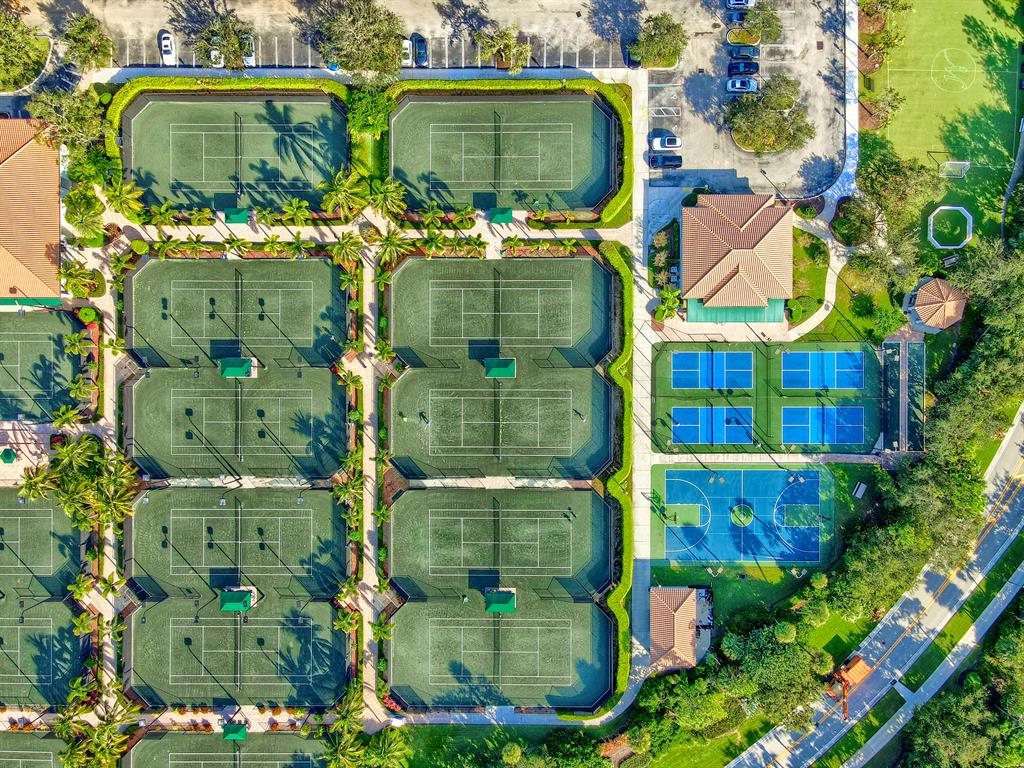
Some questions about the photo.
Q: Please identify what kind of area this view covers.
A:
sports ground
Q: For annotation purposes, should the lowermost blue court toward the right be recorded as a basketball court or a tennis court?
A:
basketball court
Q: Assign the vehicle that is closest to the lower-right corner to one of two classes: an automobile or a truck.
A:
truck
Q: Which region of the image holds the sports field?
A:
top right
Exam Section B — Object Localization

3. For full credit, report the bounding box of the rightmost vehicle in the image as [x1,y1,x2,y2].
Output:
[824,655,873,721]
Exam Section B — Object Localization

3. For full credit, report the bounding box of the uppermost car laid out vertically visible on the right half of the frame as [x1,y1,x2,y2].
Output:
[628,40,641,69]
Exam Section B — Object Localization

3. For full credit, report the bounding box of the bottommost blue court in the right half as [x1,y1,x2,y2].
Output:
[651,464,834,567]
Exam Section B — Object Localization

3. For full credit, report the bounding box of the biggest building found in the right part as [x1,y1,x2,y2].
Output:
[681,194,793,322]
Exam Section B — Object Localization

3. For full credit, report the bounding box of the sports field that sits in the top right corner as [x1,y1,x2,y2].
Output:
[863,0,1024,205]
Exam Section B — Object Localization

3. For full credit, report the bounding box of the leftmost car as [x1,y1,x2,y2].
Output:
[160,34,176,65]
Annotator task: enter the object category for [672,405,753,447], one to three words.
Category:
sports court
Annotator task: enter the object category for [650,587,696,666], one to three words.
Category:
building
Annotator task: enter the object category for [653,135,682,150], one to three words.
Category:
car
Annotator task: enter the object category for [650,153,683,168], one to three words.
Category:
car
